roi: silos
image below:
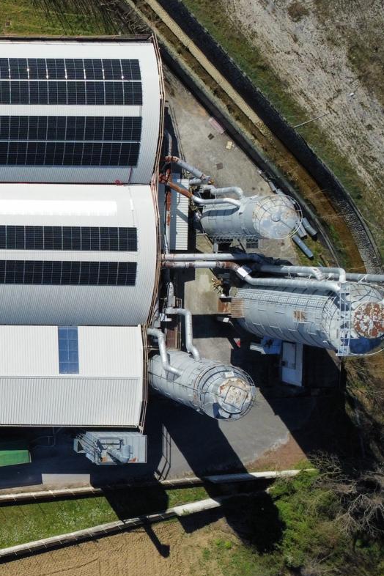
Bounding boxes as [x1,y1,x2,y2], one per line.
[203,191,309,244]
[152,353,259,423]
[222,277,384,356]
